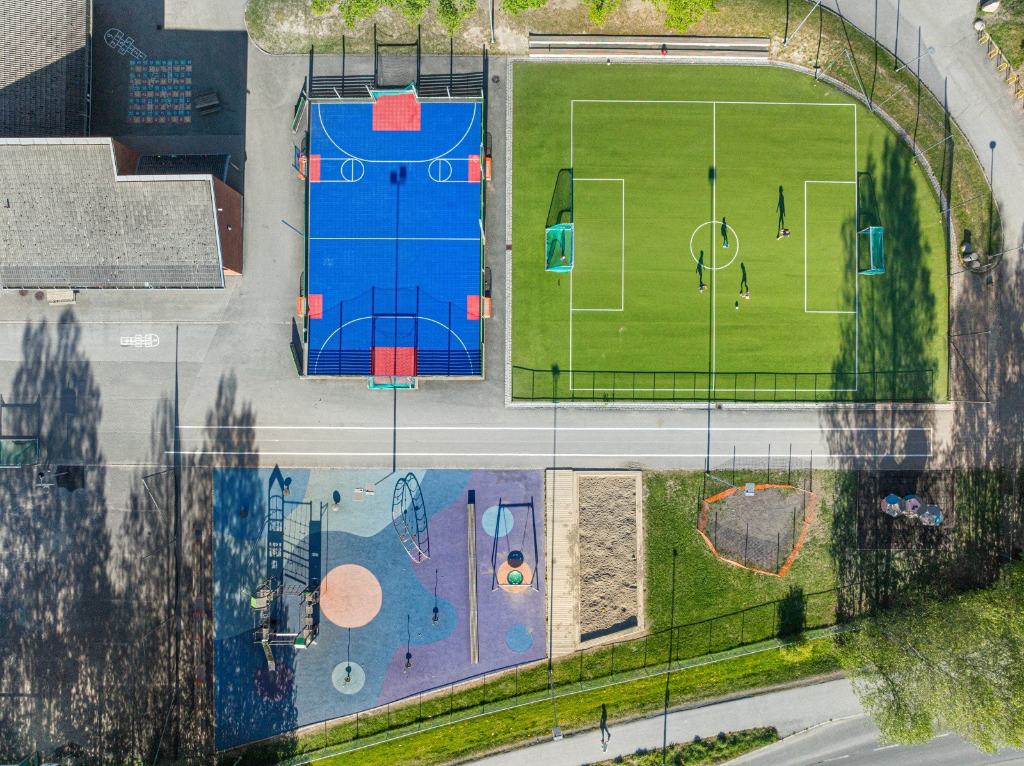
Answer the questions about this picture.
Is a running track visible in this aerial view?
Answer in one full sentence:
Yes, there's a running track here.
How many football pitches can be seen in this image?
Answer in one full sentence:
My tally gives 1 football pitch in this photo.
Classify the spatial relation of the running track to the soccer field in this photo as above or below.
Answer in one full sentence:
It's below the soccer field that the running track shows up.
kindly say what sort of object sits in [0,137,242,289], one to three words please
building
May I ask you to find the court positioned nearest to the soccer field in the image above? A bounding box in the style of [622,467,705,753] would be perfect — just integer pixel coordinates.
[300,89,488,387]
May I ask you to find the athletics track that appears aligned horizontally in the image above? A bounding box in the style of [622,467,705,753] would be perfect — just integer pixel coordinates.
[165,426,932,456]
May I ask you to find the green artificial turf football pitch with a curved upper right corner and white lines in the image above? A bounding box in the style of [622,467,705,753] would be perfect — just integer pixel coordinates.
[513,62,949,402]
